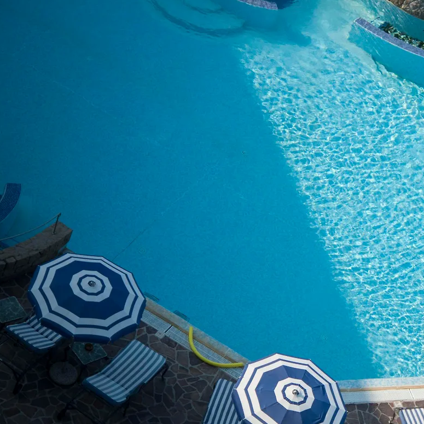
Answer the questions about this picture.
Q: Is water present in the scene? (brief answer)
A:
Yes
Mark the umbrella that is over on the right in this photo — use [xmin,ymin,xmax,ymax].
[231,353,348,424]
